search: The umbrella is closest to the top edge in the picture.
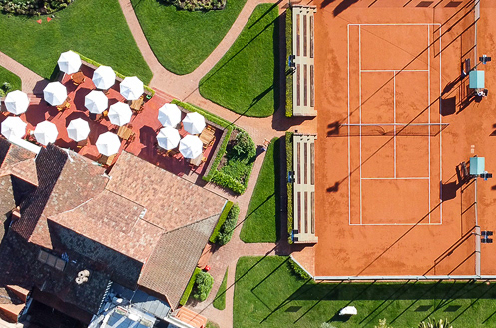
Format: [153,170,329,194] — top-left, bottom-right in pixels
[57,49,81,74]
